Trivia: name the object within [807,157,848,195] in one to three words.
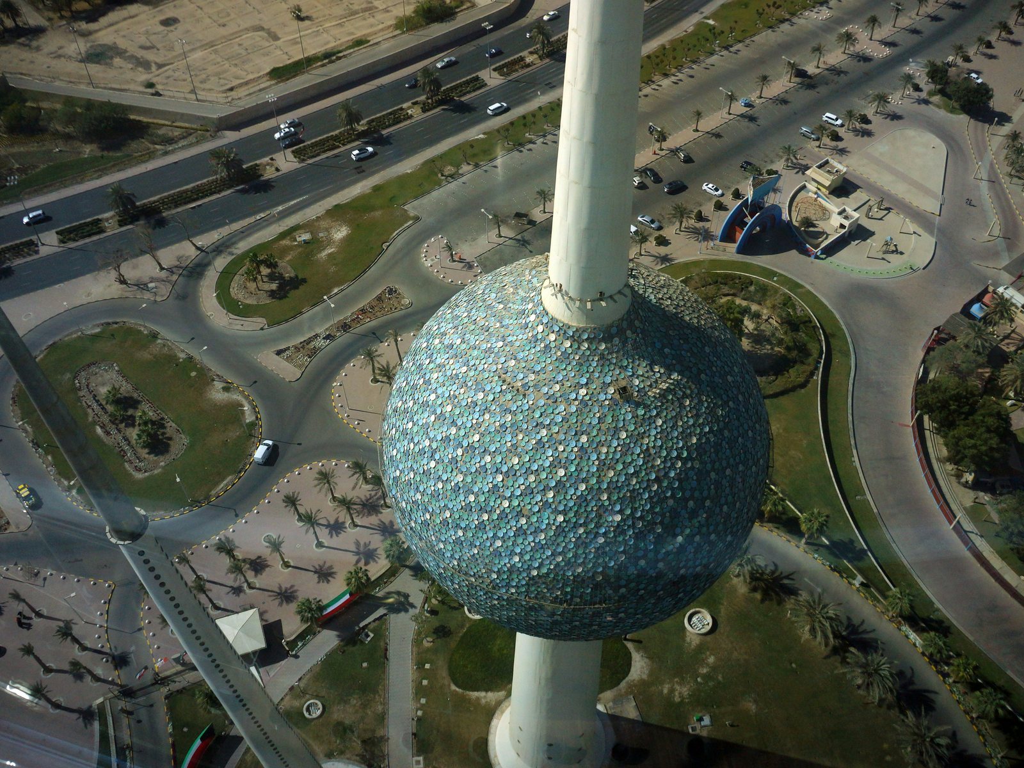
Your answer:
building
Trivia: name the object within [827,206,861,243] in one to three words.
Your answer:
building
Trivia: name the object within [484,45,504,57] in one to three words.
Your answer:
vehicle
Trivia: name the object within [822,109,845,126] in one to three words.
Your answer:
car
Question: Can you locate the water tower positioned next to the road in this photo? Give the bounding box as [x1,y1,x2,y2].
[375,0,779,768]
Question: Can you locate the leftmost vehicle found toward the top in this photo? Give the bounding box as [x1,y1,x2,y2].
[17,207,46,224]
